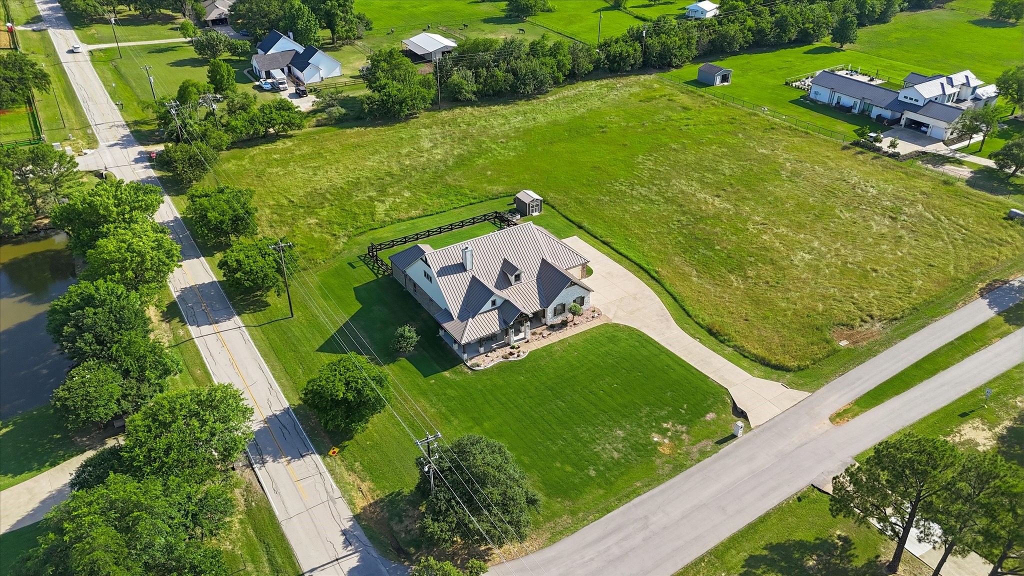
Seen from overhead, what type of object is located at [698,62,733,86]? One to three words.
shed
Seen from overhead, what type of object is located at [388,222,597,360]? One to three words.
house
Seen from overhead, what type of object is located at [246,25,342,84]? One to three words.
house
